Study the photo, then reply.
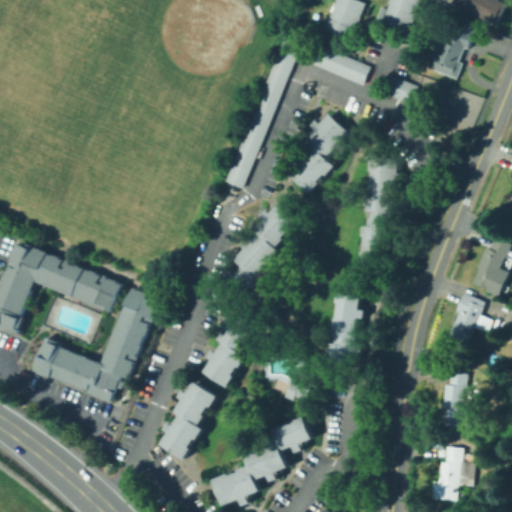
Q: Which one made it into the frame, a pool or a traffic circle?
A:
pool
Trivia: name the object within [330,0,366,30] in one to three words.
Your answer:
house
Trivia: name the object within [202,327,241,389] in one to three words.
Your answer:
building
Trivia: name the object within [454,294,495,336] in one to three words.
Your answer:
house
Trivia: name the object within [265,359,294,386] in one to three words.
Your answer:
swimming pool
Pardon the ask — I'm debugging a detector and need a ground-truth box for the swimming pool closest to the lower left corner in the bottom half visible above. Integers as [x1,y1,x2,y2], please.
[46,298,102,343]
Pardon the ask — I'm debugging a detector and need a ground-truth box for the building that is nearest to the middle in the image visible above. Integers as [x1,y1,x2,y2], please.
[235,206,281,274]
